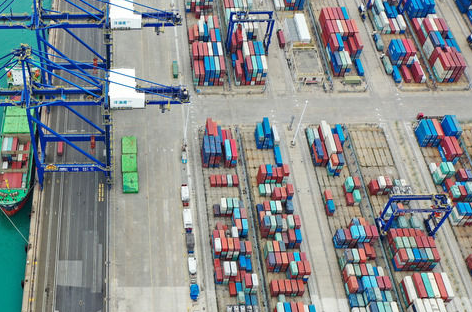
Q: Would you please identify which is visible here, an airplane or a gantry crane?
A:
gantry crane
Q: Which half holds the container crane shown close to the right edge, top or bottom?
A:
bottom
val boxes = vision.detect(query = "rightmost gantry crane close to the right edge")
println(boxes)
[373,187,458,240]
